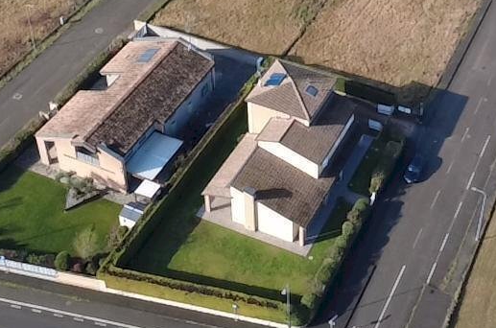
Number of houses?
2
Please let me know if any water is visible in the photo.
No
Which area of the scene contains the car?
right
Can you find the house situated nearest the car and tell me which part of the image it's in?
center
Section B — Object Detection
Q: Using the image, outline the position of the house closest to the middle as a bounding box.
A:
[204,59,358,247]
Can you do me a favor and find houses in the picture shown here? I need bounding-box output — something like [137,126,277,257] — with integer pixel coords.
[34,37,212,194]
[204,59,358,247]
